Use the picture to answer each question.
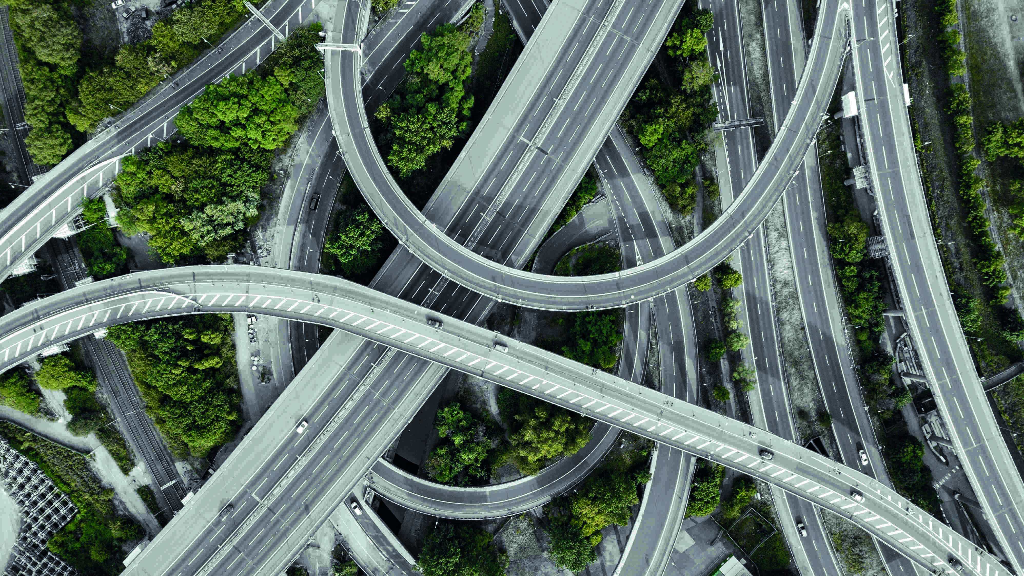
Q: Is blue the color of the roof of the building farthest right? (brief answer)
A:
No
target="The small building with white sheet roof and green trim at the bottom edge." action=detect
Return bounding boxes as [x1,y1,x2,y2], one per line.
[710,548,752,576]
